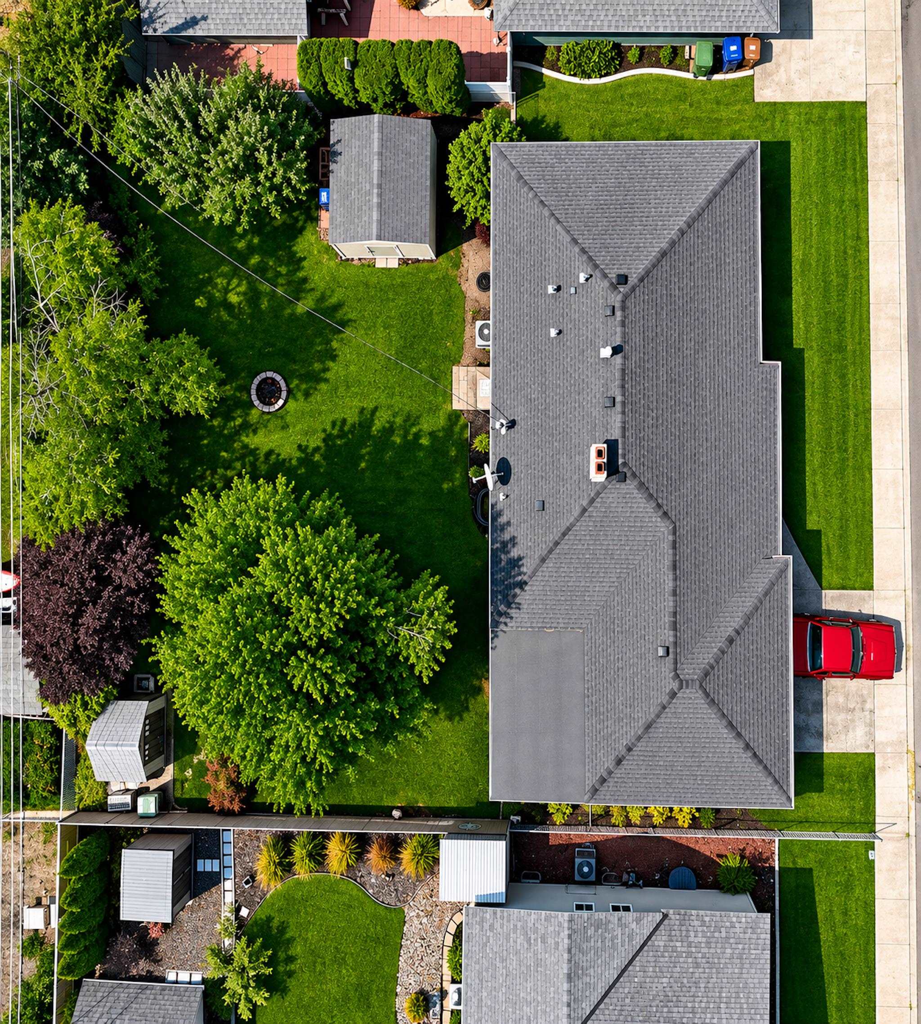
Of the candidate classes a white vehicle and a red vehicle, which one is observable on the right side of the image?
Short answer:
red vehicle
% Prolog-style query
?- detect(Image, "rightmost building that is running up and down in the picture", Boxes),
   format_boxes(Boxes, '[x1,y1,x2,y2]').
[488,139,797,808]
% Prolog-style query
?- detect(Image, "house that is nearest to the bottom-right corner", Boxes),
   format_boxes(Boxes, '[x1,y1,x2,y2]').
[457,882,772,1024]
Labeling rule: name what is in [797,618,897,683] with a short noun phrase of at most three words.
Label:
car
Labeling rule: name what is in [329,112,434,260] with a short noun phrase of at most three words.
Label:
shed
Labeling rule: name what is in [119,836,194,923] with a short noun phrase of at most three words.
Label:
shed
